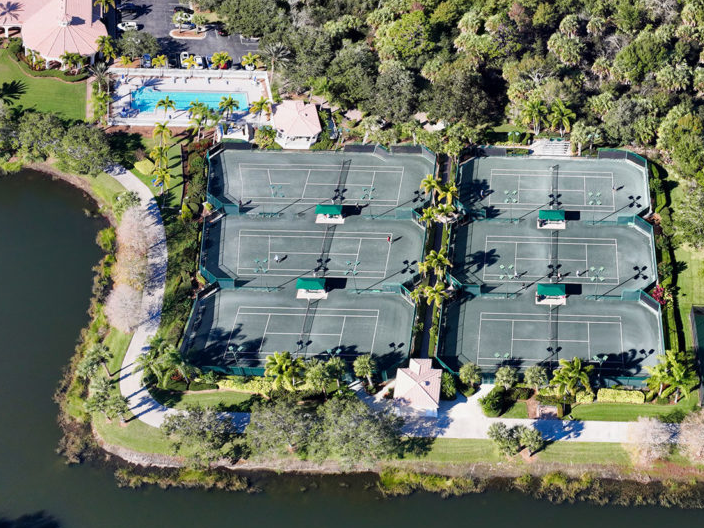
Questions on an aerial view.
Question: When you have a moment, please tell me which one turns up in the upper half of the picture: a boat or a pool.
pool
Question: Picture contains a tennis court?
Yes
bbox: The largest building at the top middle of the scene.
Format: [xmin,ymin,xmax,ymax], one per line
[270,98,323,151]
